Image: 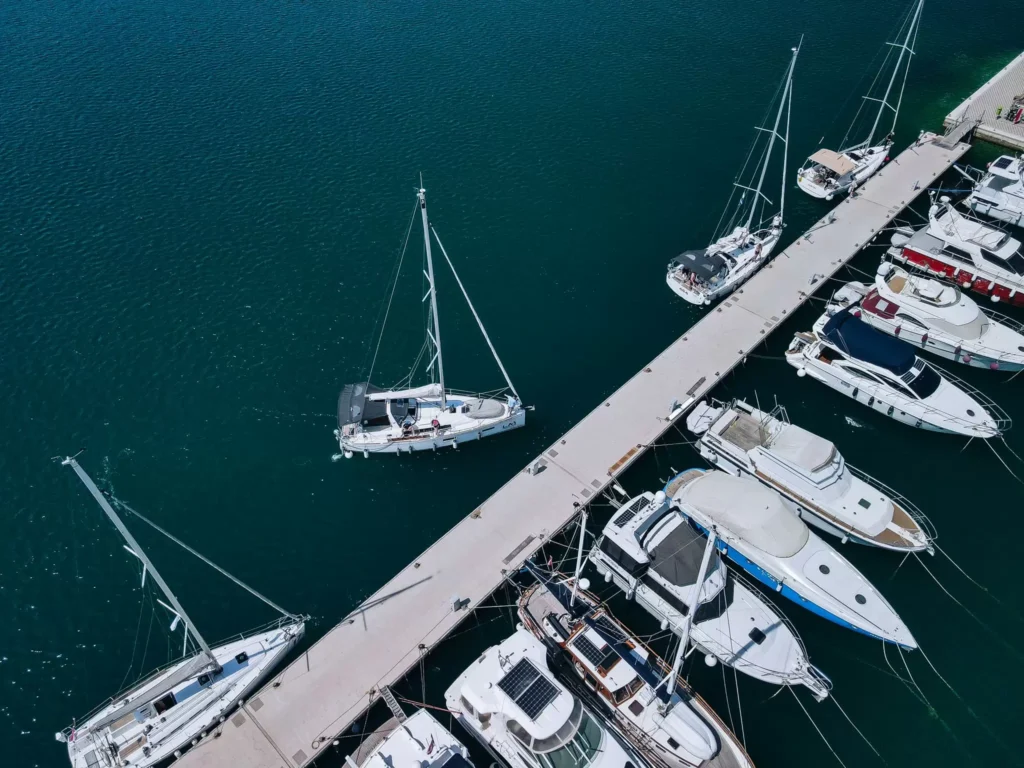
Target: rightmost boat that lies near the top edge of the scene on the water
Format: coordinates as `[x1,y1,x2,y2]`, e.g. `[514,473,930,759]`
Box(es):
[794,0,929,201]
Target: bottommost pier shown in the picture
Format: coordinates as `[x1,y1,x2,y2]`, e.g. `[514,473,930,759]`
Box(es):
[166,132,970,768]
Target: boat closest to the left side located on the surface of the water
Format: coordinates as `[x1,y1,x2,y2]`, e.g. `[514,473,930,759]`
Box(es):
[44,458,313,768]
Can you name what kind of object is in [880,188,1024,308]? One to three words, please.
boat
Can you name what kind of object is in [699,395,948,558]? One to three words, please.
boat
